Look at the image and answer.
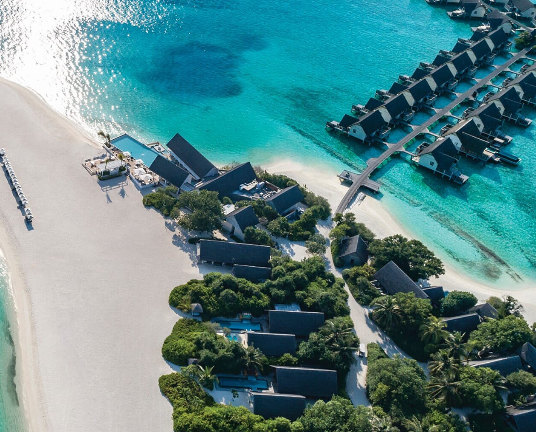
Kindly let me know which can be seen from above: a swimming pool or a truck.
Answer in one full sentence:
The image shows a swimming pool.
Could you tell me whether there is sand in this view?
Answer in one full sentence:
Yes, some sand is visible.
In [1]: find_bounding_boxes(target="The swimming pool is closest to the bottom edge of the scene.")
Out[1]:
[218,377,269,390]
